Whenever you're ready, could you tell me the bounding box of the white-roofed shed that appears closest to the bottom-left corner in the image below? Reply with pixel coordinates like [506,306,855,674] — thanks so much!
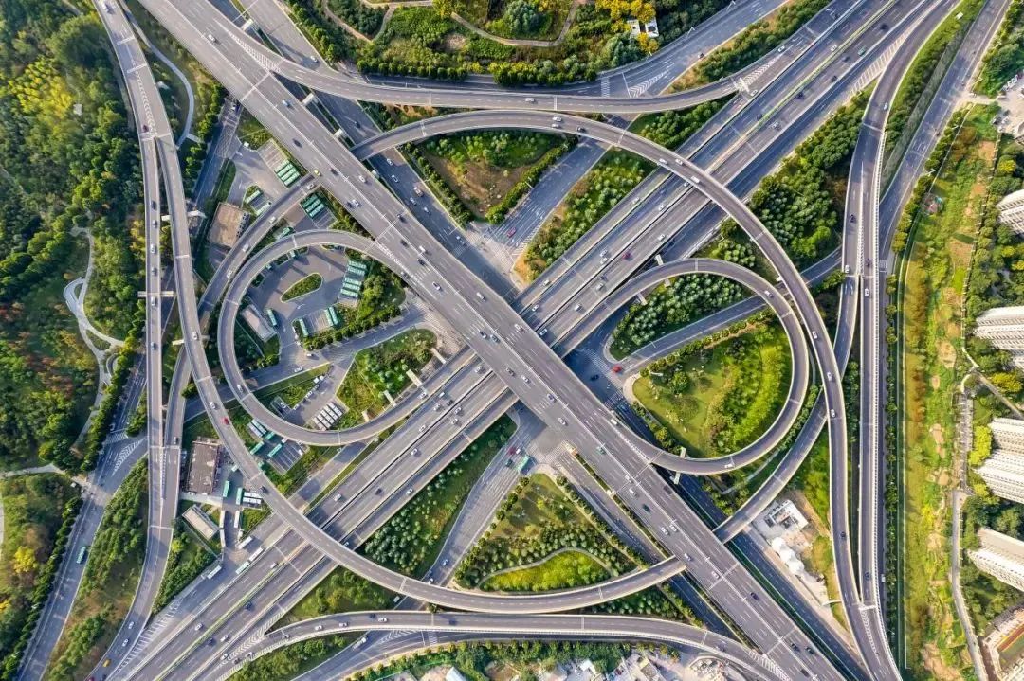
[183,506,217,539]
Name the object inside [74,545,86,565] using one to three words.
vehicle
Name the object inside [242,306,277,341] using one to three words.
building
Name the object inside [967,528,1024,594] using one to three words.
building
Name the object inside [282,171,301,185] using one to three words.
vehicle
